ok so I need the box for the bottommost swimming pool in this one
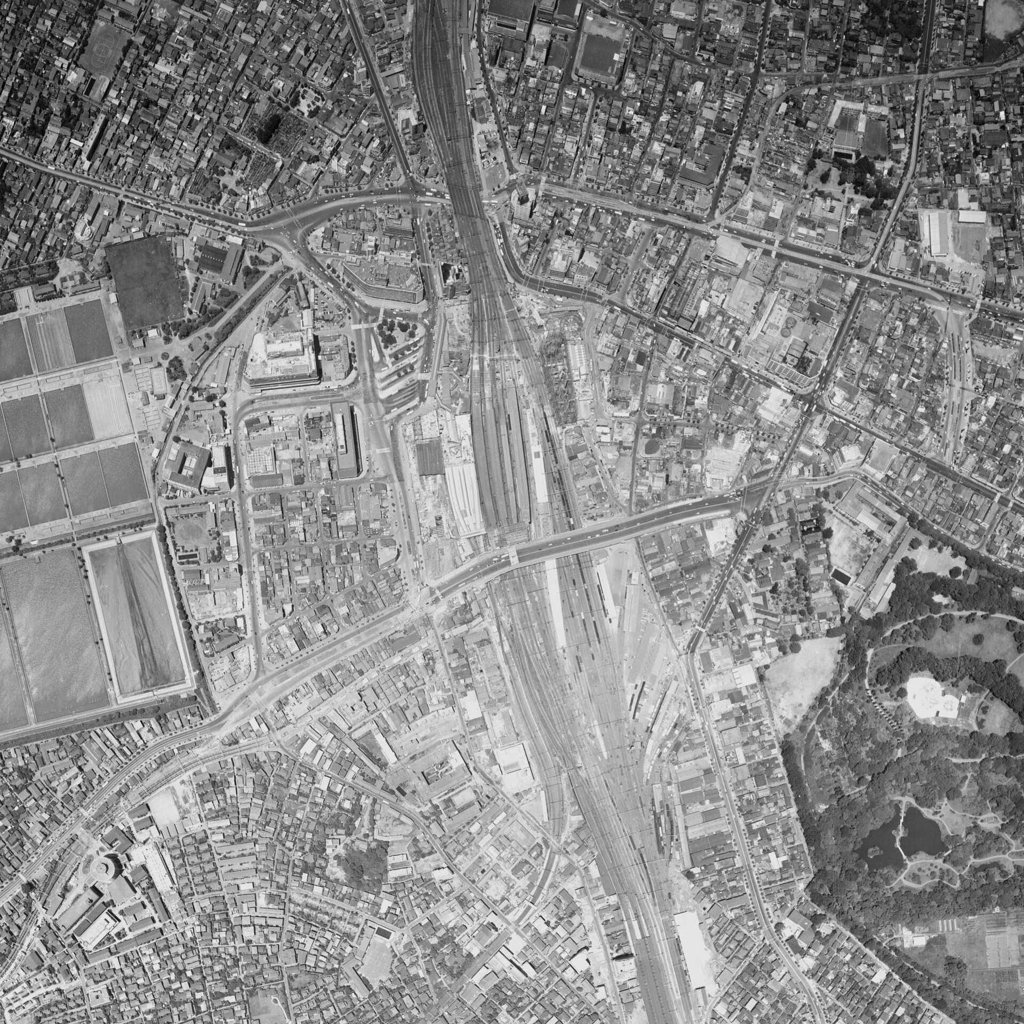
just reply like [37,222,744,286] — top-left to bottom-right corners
[374,926,392,941]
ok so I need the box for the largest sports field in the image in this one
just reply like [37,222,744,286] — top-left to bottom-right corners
[104,236,184,331]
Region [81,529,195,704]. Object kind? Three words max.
pond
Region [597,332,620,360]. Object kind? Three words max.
building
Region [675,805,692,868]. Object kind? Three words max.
shed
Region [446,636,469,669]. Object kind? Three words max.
building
